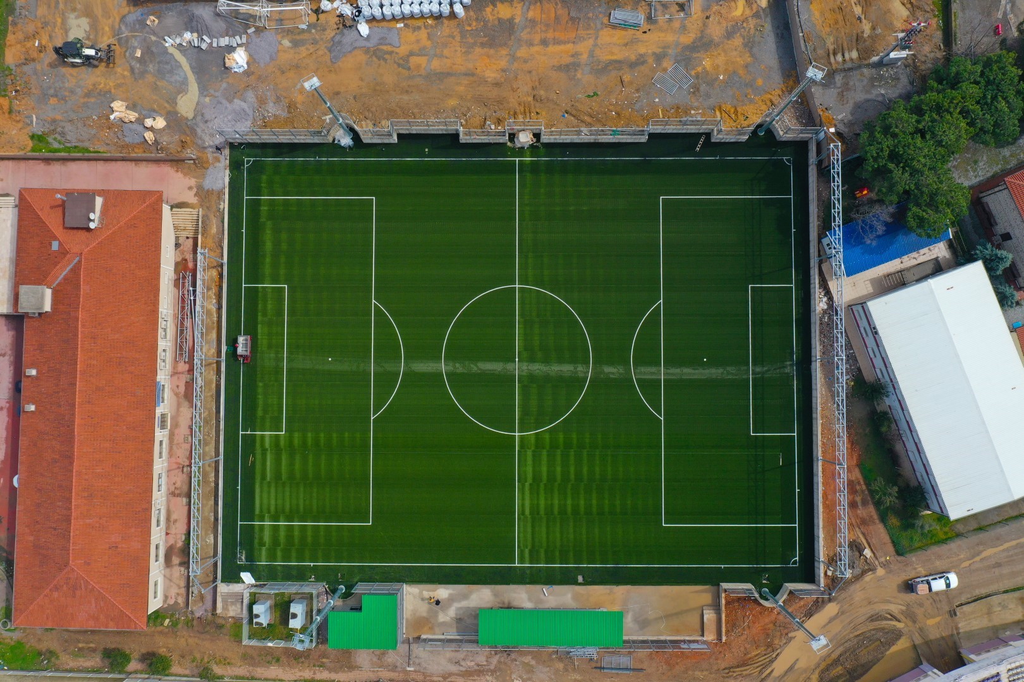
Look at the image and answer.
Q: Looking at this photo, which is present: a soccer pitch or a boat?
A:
soccer pitch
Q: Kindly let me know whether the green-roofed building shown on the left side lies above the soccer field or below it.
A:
below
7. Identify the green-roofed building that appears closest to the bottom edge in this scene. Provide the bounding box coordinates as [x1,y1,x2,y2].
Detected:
[328,590,400,650]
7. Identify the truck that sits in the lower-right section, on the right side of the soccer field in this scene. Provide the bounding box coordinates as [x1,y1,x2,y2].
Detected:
[910,574,961,599]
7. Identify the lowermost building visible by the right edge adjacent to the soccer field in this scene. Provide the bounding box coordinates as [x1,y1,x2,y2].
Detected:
[851,258,1024,521]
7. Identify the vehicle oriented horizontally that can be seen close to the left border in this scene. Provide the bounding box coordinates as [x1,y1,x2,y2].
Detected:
[51,37,114,65]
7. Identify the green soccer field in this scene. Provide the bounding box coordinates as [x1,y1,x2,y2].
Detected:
[221,124,815,593]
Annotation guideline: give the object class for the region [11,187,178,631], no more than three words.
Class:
building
